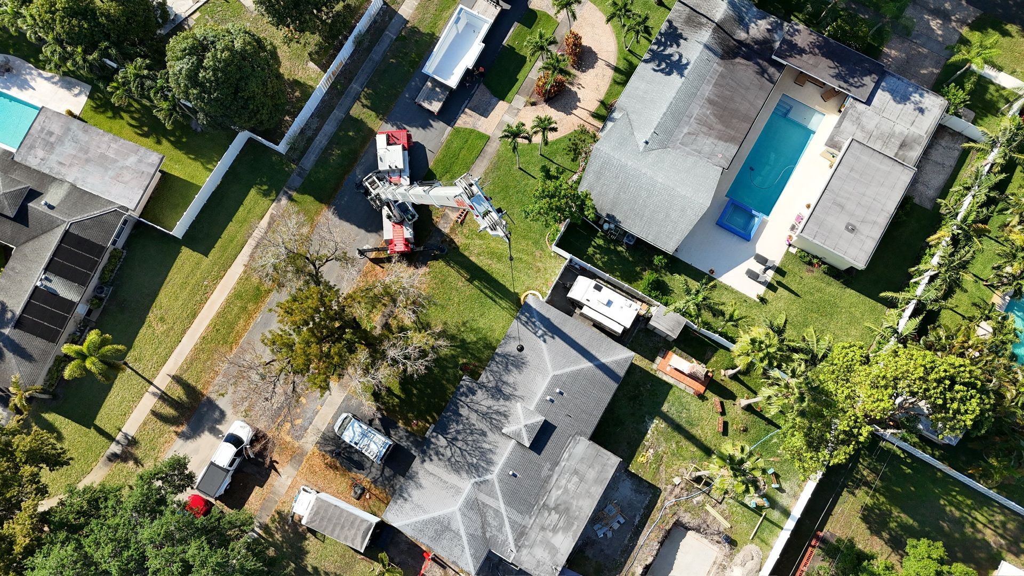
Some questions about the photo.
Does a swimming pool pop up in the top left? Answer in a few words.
Yes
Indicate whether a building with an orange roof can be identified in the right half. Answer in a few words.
No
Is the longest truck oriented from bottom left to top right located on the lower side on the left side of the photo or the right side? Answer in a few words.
left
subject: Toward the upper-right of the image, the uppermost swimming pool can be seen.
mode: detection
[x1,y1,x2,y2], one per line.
[726,93,825,216]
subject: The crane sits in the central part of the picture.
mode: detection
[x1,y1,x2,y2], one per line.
[355,130,523,343]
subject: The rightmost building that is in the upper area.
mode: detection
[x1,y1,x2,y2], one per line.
[772,22,949,270]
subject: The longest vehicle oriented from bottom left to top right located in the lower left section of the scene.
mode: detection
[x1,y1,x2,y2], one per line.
[194,420,254,499]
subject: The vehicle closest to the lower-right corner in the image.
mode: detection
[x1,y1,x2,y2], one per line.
[560,276,640,338]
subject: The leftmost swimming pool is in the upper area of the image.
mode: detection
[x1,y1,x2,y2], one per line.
[0,89,39,135]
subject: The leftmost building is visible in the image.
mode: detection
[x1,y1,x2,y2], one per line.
[0,106,169,382]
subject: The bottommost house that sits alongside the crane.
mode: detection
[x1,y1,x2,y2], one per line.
[381,293,635,576]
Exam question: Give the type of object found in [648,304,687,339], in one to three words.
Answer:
shed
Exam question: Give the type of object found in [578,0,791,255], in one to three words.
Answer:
house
